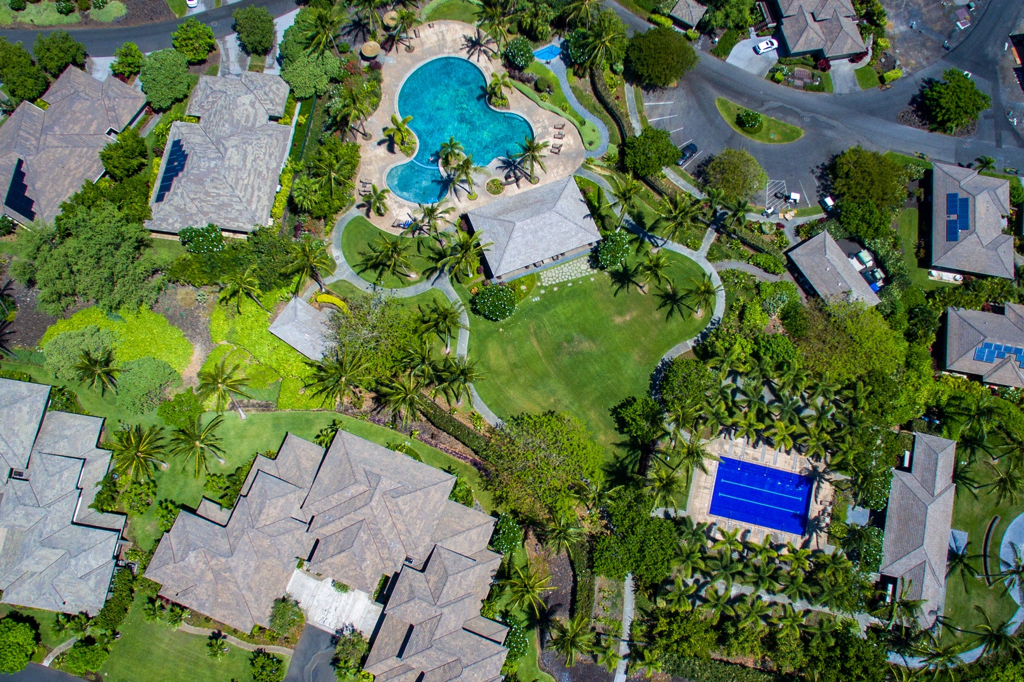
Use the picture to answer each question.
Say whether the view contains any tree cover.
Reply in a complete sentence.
Yes, the picture does contain tree cover.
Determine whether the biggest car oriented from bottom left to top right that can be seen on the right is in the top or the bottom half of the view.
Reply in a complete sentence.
The biggest car oriented from bottom left to top right that can be seen on the right sits in the top half of the picture.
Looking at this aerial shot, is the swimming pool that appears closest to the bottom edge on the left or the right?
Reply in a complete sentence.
It is on the right.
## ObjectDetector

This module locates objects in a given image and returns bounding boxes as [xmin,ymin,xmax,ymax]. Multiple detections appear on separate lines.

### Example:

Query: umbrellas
[383,12,397,28]
[362,42,380,57]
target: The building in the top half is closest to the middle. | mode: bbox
[466,175,603,284]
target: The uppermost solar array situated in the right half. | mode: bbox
[947,193,970,241]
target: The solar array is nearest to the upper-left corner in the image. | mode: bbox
[4,158,36,221]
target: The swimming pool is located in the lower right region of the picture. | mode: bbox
[707,454,816,539]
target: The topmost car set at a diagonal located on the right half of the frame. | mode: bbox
[678,142,698,164]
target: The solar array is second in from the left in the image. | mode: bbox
[155,140,191,202]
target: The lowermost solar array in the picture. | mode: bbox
[974,342,1024,368]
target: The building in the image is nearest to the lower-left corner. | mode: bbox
[0,377,129,618]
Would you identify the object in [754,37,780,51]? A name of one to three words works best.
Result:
car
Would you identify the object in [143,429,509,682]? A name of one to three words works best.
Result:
house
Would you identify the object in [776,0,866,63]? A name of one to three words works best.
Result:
house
